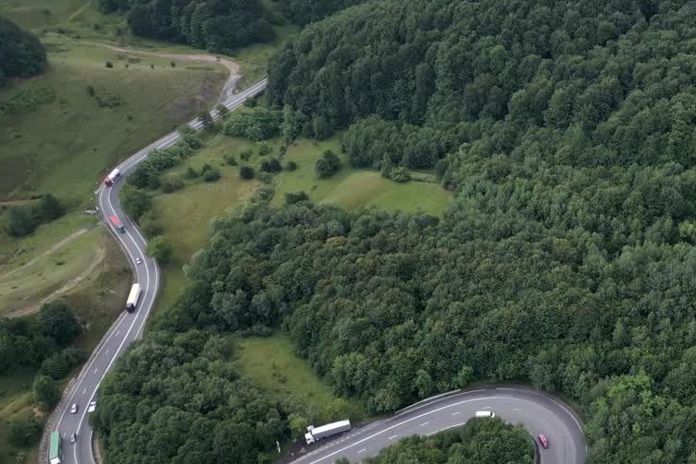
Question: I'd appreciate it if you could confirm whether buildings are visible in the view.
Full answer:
No, I can see no building in this picture.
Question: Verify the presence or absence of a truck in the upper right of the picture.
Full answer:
No, there is no truck in the upper right of the picture.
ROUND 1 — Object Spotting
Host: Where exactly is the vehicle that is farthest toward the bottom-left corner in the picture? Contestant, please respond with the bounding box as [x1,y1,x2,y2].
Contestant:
[49,429,64,464]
